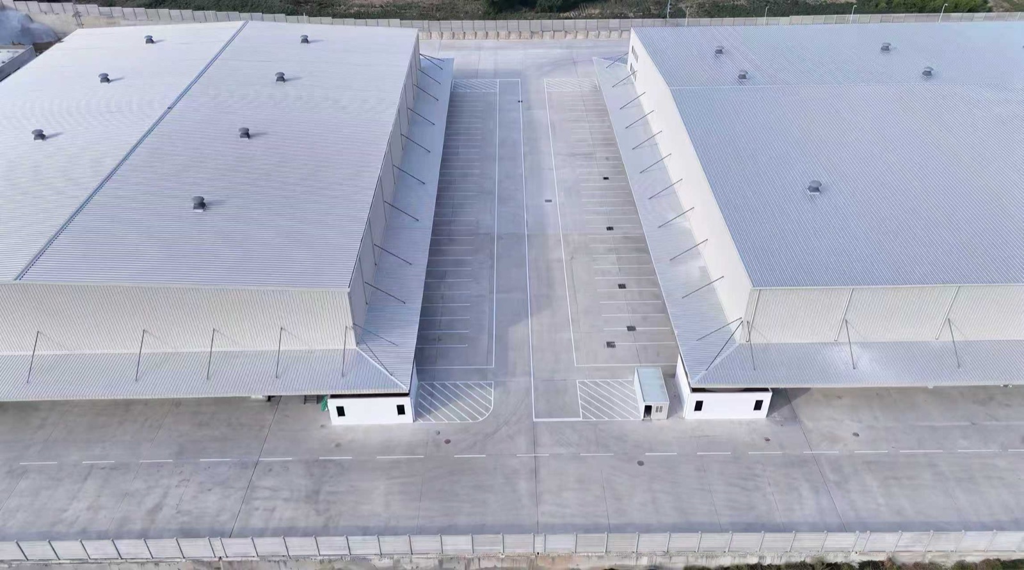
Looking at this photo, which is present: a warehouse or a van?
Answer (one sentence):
The image shows a warehouse.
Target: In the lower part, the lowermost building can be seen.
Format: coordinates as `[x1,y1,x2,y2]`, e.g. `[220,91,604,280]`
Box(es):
[635,367,669,422]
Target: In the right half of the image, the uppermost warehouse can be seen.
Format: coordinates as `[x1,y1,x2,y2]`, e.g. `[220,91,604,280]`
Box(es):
[592,22,1024,390]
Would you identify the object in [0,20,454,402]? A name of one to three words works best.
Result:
warehouse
